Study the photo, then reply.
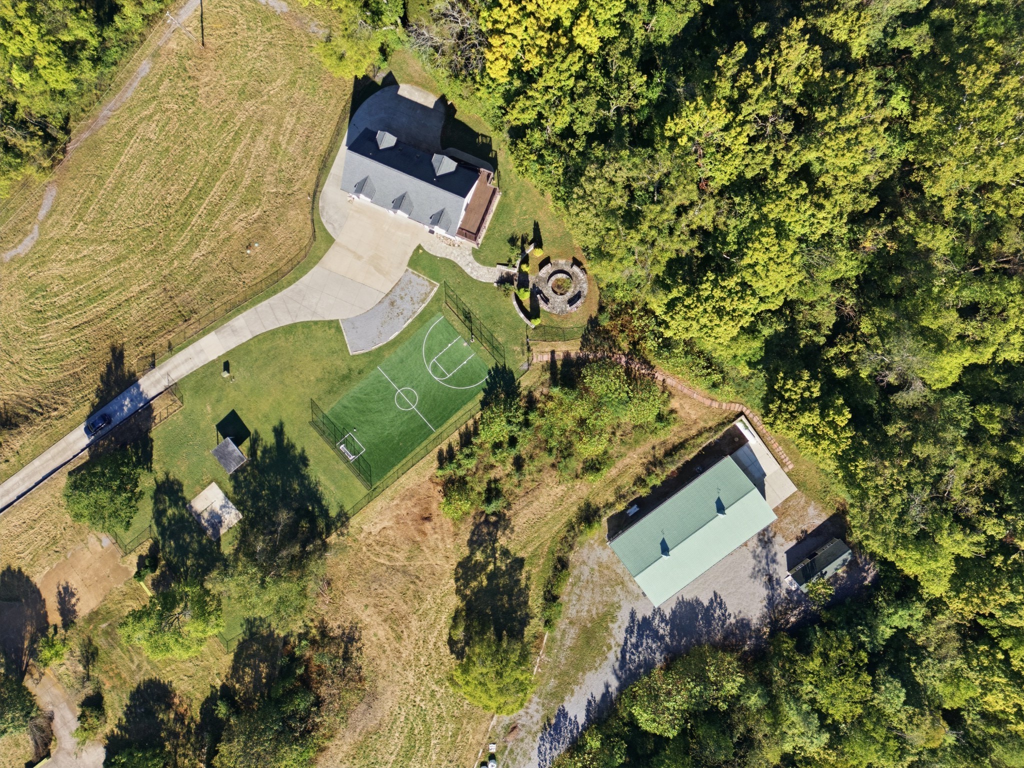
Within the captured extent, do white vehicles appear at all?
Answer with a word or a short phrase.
No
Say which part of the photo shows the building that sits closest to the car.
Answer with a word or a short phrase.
left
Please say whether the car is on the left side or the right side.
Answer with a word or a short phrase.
left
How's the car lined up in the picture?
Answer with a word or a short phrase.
on a diagonal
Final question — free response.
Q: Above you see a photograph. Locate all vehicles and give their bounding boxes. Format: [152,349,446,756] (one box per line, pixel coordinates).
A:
[81,412,110,436]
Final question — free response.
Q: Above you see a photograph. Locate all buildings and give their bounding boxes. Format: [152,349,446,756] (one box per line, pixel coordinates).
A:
[609,456,777,607]
[788,538,854,594]
[210,437,251,474]
[338,123,480,240]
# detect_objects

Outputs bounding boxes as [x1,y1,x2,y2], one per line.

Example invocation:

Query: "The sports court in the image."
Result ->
[327,313,503,487]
